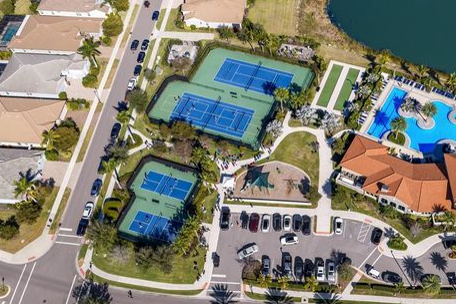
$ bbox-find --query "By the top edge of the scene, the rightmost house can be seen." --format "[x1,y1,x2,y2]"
[181,0,246,28]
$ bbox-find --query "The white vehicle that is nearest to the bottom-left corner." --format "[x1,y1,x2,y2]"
[82,201,94,218]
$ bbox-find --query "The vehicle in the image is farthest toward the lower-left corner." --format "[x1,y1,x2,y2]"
[76,218,89,238]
